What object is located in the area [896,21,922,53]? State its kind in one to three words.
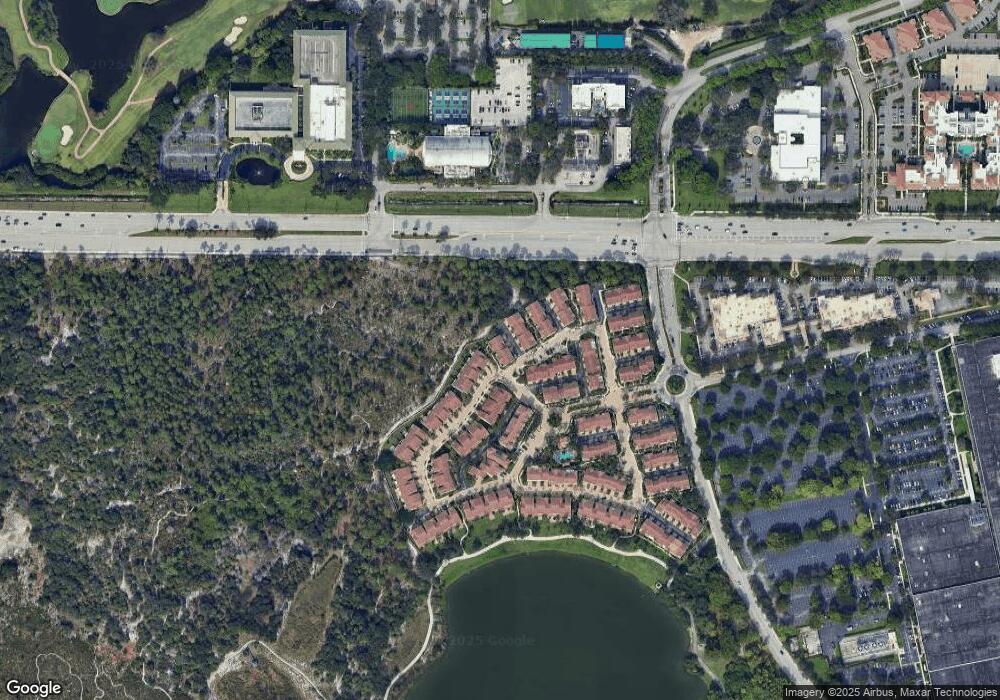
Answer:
house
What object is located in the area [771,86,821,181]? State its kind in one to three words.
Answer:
building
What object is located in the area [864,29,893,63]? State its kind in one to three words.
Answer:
house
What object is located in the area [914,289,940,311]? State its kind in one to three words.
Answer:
building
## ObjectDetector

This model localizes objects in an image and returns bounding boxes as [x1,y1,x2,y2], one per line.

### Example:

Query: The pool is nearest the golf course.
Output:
[384,139,424,166]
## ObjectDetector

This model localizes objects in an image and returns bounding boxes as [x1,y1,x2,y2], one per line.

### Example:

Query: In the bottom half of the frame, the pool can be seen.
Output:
[554,447,576,462]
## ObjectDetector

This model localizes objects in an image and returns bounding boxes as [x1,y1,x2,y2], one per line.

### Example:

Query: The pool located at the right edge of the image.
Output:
[952,138,979,160]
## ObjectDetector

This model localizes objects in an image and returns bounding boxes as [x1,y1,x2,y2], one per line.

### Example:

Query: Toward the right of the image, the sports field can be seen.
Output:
[492,0,769,27]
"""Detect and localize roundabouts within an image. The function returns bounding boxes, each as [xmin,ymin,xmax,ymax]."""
[658,365,692,400]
